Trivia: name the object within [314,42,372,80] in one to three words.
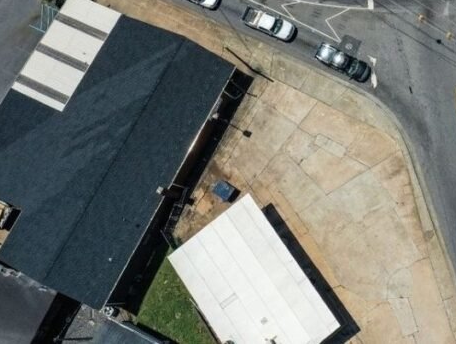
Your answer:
truck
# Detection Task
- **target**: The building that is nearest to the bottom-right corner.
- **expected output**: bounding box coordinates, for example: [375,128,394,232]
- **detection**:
[168,194,347,344]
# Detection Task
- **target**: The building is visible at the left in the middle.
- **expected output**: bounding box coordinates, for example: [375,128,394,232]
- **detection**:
[0,0,240,311]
